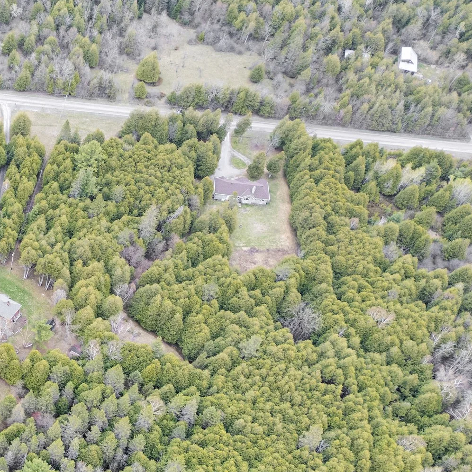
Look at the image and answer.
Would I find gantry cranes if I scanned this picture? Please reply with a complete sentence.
No, the frame has no gantry crane in it.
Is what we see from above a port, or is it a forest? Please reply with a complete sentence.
It's a forest.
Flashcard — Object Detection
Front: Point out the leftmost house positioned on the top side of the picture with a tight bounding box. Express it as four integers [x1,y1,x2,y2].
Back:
[211,172,271,205]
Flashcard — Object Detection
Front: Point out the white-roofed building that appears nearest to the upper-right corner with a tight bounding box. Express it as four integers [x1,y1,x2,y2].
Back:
[399,47,418,74]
